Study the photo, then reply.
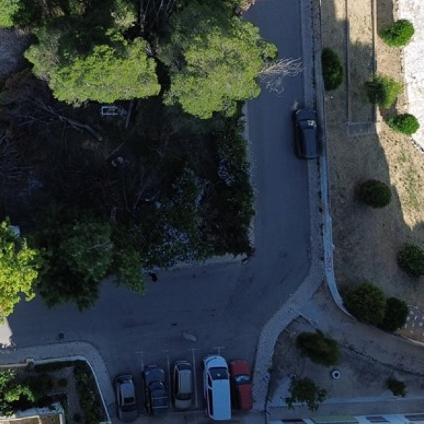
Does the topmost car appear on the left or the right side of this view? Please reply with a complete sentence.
The topmost car sits on the right side.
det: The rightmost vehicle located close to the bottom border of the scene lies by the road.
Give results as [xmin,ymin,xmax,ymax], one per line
[226,357,255,413]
